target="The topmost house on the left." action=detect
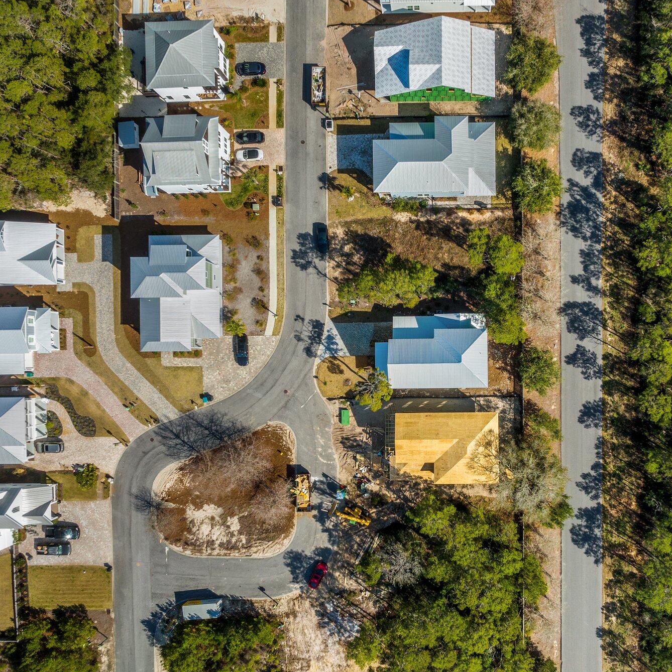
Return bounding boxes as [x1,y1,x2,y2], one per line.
[145,19,230,100]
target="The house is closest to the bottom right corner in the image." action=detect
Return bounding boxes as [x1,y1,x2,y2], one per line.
[386,412,498,484]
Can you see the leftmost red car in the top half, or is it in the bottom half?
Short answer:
bottom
